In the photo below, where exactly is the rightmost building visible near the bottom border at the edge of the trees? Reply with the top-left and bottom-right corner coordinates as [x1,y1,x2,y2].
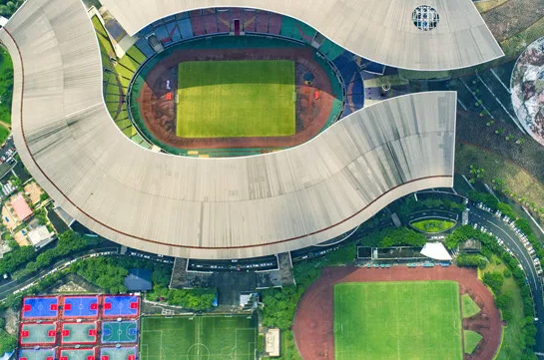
[265,326,280,356]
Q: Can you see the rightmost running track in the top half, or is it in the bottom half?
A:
bottom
